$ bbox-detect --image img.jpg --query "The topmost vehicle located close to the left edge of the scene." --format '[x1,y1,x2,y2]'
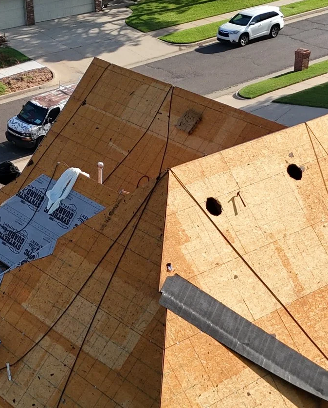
[0,70,82,147]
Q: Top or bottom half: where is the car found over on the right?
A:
top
